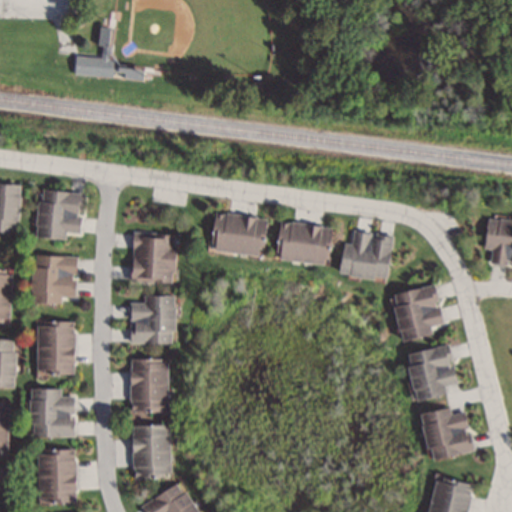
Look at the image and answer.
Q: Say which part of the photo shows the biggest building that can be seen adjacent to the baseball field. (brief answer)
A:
top left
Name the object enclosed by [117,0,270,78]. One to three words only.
baseball field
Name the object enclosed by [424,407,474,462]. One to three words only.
house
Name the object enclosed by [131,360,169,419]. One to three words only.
house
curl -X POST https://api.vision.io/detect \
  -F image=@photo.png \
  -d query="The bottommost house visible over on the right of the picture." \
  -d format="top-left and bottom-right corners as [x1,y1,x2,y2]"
[432,476,472,512]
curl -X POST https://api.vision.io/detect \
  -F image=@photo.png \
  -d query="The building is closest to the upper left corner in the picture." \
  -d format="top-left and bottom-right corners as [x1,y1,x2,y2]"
[76,27,119,78]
